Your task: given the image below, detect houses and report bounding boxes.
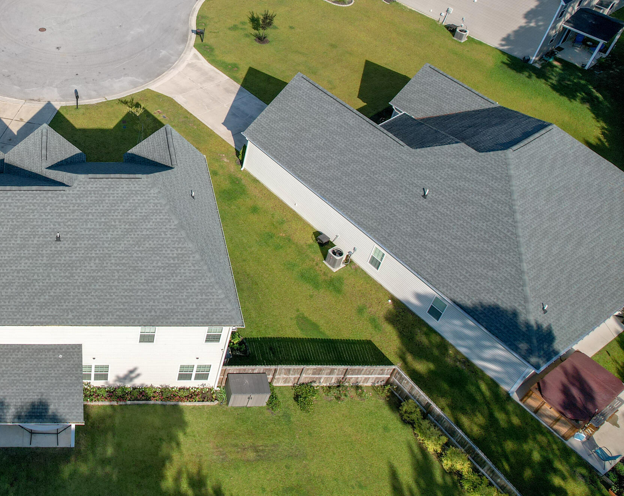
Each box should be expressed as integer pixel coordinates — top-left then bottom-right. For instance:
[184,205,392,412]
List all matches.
[0,121,247,444]
[395,0,624,71]
[234,62,624,395]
